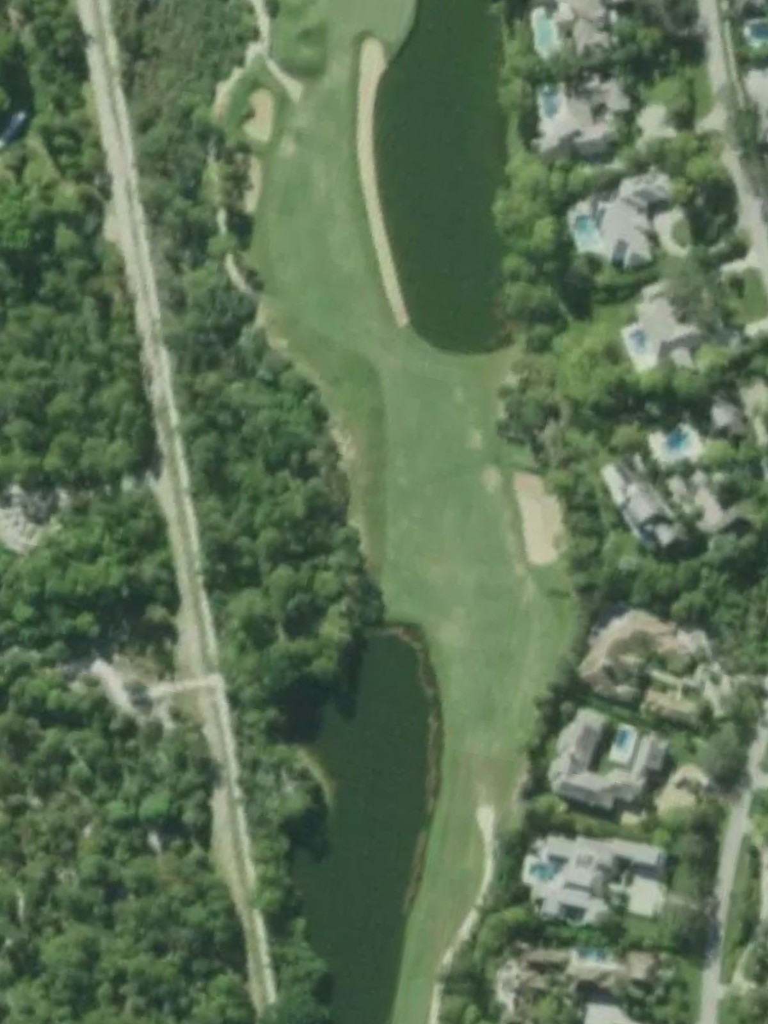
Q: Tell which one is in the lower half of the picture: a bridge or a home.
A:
home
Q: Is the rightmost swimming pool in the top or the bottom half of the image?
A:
top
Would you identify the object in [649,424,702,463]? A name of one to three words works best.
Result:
swimming pool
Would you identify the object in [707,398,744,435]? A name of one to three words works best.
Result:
house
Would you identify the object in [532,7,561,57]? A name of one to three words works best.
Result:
swimming pool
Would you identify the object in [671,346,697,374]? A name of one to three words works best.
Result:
building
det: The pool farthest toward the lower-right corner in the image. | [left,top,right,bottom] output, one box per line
[569,944,624,964]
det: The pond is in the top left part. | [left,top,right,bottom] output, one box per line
[0,55,29,153]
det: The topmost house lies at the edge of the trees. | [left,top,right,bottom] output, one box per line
[557,0,613,52]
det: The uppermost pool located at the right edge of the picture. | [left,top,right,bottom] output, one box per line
[744,18,768,49]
